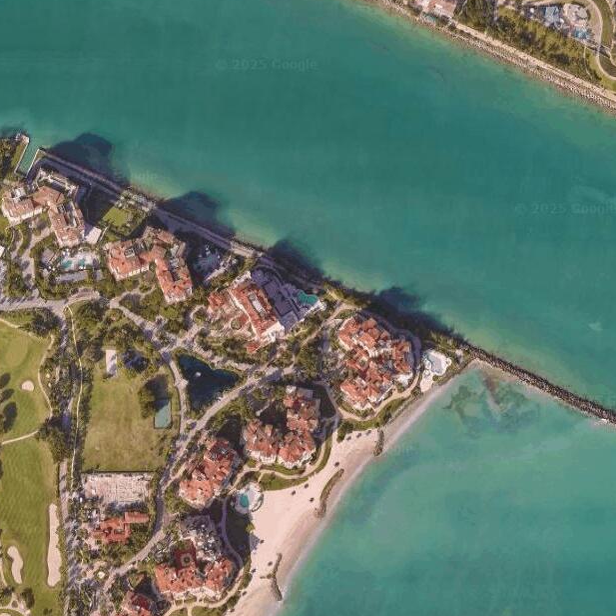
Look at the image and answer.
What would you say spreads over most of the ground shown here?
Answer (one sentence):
The scene is dominated by water.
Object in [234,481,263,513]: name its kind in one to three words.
swimming pool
